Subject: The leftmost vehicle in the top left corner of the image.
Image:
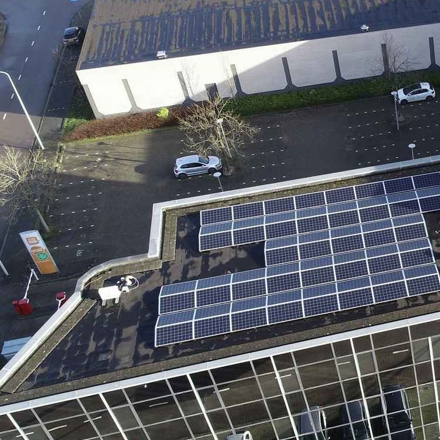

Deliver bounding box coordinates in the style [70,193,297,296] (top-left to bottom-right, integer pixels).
[61,22,82,42]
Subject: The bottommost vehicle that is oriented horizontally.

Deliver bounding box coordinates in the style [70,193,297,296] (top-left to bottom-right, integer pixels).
[170,150,221,175]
